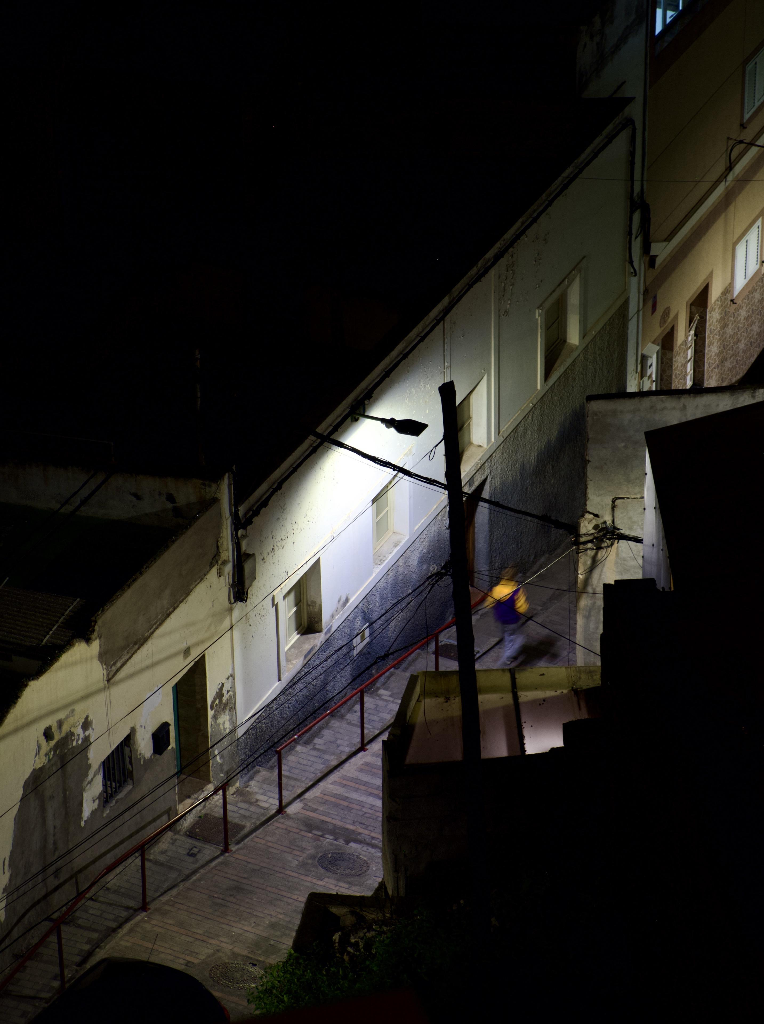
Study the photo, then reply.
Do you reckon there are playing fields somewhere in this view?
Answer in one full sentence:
No, I find no playing field anywhere in the image.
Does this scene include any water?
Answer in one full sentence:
No, the picture contains no water.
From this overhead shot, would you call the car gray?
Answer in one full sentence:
No, the color of the car is black.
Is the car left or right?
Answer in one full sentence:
The car sits on the left side.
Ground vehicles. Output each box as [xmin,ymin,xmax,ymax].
[32,921,231,1024]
